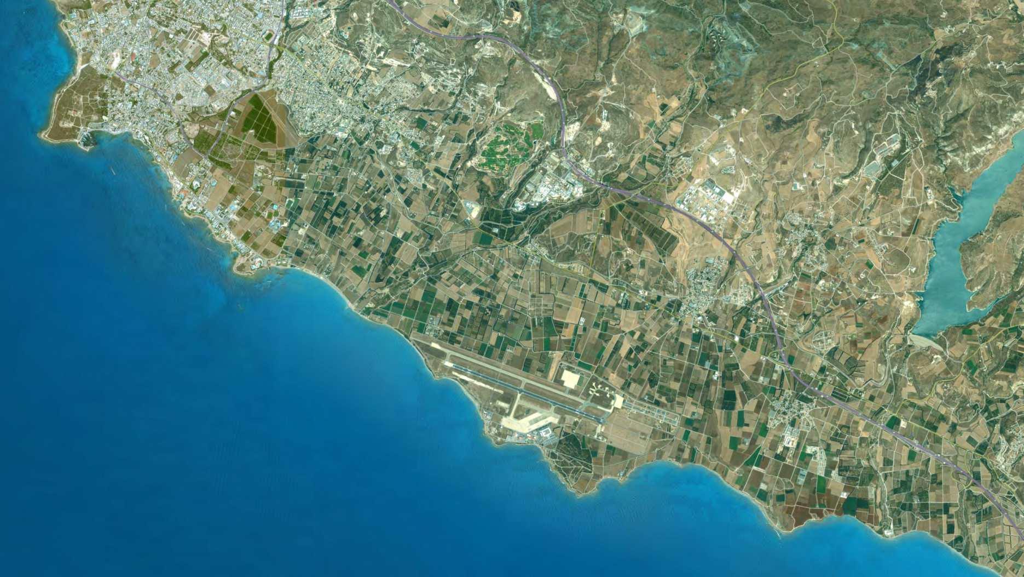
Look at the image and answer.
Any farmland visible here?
Yes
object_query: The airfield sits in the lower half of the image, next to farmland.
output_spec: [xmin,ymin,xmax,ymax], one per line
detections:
[408,332,628,434]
